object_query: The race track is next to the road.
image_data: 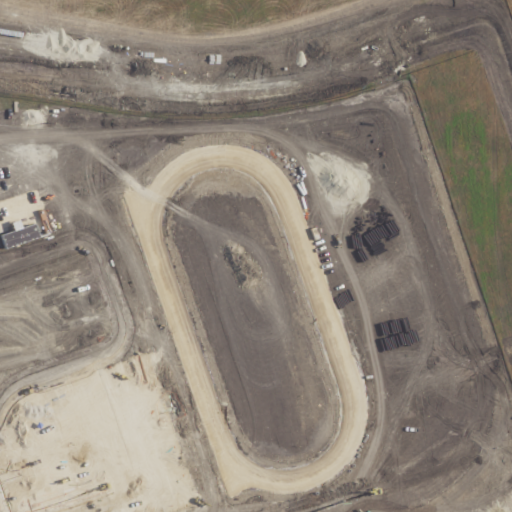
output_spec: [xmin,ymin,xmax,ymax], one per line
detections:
[124,144,368,496]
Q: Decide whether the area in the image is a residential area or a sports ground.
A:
sports ground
